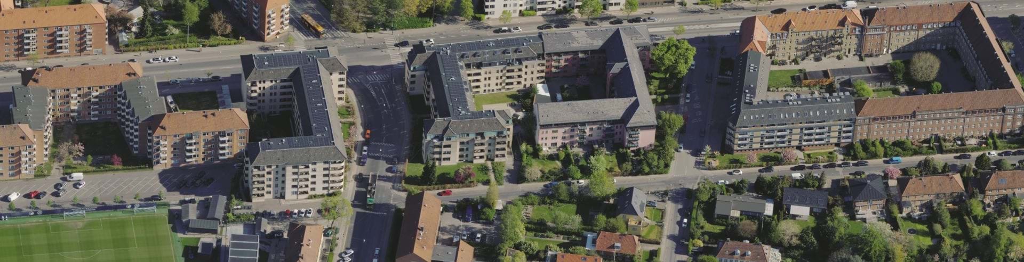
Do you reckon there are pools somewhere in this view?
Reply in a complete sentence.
No, this view has no pool in it.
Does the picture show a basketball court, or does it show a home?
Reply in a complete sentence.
Looking from above, you can make out a home.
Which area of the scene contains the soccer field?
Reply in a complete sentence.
The soccer field is in the bottom left part of the image.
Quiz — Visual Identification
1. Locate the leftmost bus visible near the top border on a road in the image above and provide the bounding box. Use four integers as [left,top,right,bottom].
[301,13,325,38]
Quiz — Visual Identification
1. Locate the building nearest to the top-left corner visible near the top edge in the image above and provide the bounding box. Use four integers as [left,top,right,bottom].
[0,0,106,61]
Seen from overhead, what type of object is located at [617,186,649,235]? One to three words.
house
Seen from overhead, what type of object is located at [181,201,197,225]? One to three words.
shed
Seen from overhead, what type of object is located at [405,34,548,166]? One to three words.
building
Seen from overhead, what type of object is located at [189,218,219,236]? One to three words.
shed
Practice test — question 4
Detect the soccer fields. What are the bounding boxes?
[0,201,191,262]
